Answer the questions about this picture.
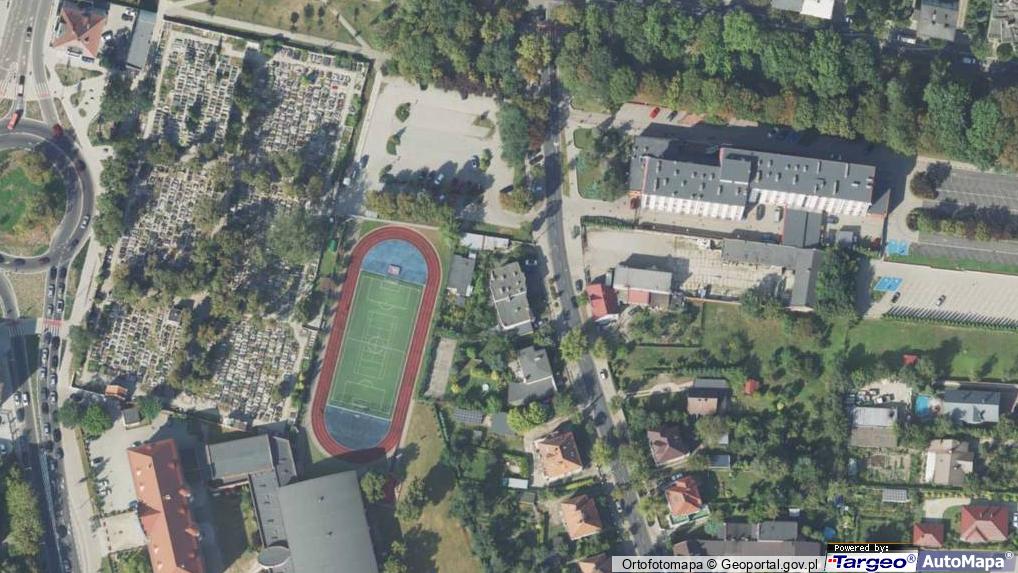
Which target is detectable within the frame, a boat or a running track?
running track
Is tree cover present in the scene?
Yes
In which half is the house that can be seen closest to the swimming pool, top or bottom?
bottom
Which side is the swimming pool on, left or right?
right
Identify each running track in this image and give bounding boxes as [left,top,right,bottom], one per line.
[311,223,443,465]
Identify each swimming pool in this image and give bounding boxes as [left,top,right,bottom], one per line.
[915,393,941,417]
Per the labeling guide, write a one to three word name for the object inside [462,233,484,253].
shed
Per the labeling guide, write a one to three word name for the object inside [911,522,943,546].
building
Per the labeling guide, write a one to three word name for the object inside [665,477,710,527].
house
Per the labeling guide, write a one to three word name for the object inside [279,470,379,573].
building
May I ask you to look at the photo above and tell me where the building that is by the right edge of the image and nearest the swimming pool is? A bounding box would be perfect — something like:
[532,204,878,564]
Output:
[940,391,1002,426]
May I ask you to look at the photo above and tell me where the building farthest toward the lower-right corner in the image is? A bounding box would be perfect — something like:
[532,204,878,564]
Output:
[957,505,1008,545]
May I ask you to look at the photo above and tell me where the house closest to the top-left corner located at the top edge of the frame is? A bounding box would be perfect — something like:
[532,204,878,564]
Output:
[53,9,109,62]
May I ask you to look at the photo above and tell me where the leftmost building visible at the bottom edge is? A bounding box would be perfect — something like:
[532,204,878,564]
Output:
[128,438,210,573]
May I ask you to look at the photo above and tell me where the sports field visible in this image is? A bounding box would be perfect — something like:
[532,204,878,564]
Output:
[328,270,424,422]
